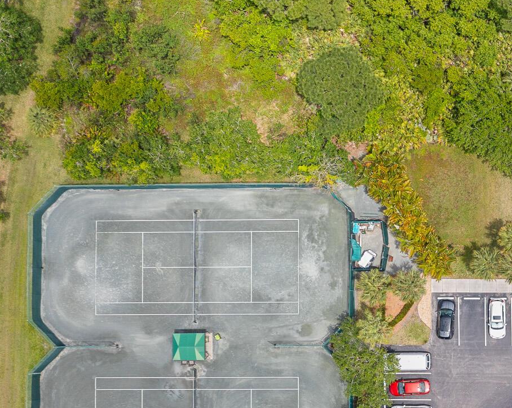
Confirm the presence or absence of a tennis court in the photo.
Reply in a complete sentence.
Yes, looking at the shot, I can spot a tennis court.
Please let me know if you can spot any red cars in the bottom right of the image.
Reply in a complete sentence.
Yes, I can see a red car in the bottom right of the image.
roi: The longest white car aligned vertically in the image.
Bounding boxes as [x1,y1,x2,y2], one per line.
[487,299,506,339]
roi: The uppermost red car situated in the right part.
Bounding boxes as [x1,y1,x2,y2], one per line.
[390,378,431,397]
